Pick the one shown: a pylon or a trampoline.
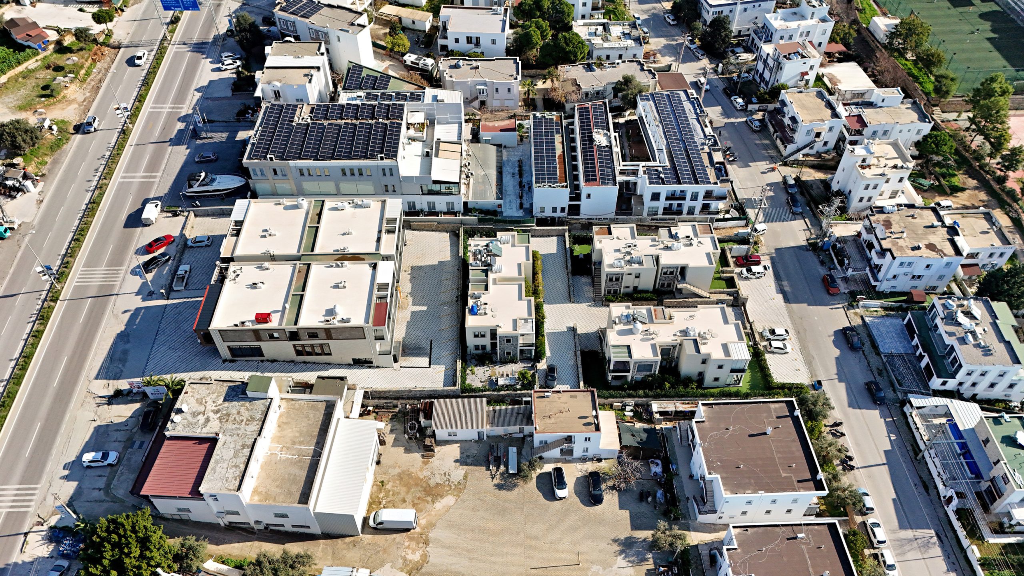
pylon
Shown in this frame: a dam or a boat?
boat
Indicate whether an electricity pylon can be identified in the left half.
No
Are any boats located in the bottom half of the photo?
No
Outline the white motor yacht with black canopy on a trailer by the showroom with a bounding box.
[172,164,246,191]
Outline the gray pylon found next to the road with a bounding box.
[812,191,845,245]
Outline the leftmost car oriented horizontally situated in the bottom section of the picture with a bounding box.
[79,449,121,470]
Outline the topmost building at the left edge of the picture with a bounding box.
[4,16,51,56]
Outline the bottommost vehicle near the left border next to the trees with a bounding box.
[45,551,80,576]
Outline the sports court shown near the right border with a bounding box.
[989,110,1024,199]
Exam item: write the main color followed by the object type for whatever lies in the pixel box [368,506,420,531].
white vehicle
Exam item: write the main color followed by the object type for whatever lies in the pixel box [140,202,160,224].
white vehicle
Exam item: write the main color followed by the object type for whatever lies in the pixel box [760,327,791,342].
white car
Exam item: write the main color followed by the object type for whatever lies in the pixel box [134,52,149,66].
white car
